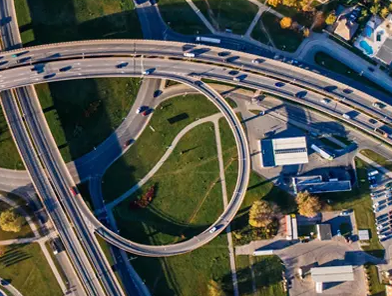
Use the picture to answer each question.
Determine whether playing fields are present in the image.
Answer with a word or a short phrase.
No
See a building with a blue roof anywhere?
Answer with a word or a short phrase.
Yes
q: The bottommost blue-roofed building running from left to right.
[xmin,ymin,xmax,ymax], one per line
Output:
[290,175,352,195]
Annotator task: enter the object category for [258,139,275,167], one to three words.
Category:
building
